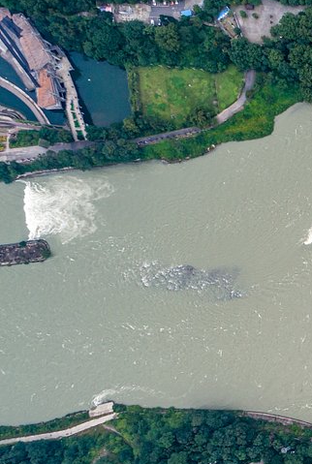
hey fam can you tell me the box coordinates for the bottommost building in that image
[34,66,68,111]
